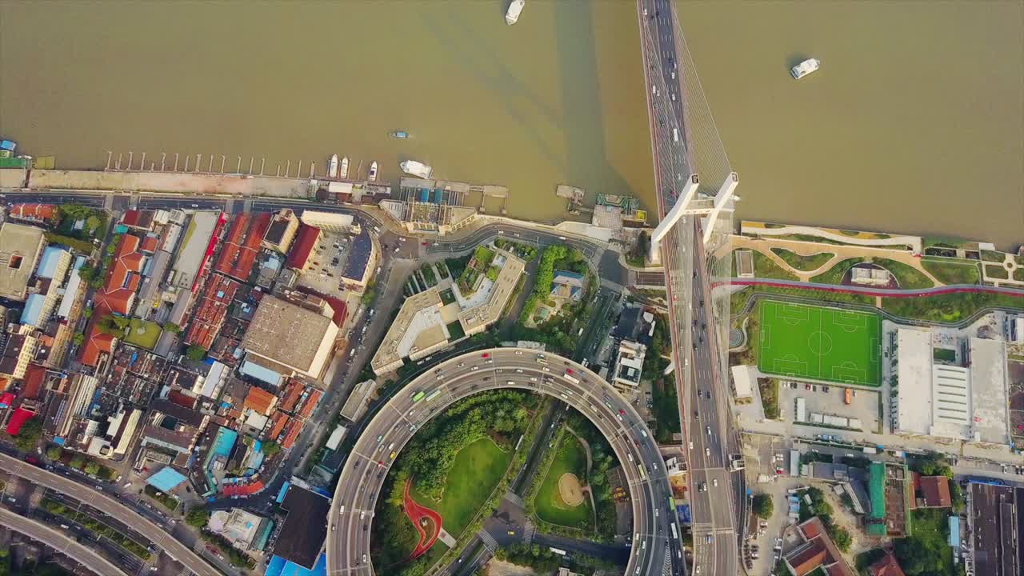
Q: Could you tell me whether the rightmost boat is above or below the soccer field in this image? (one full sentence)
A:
The position of the rightmost boat is above the soccer field.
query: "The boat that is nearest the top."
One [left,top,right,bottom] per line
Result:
[507,0,527,25]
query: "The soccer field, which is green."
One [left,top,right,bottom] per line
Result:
[758,299,882,387]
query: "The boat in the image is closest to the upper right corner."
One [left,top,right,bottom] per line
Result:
[790,58,821,80]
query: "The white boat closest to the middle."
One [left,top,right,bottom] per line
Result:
[400,160,433,180]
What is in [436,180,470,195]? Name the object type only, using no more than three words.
pier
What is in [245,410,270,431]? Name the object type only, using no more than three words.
house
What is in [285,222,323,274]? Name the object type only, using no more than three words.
building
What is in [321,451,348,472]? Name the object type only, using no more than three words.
greenhouse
